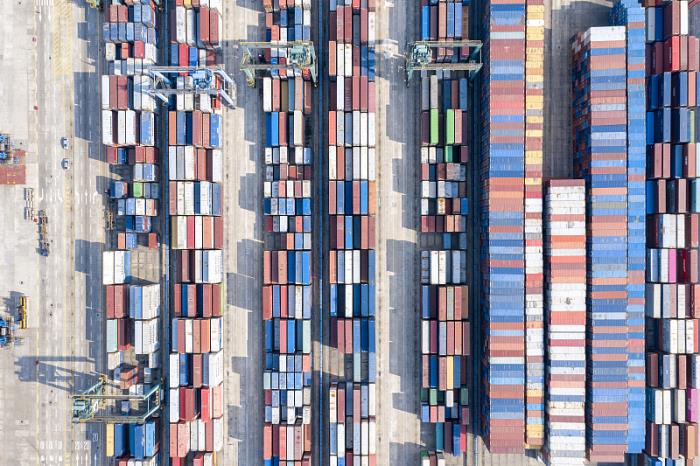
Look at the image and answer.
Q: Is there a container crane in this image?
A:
Yes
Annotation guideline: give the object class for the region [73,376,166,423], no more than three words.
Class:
container crane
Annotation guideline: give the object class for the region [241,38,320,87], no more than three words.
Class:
container crane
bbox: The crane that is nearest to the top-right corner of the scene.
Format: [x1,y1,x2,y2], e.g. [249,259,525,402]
[407,40,488,87]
